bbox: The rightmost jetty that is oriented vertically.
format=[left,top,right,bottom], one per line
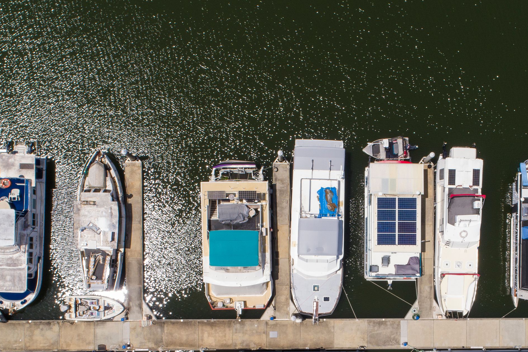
[403,158,446,318]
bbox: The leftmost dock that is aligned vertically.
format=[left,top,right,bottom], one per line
[113,155,157,320]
